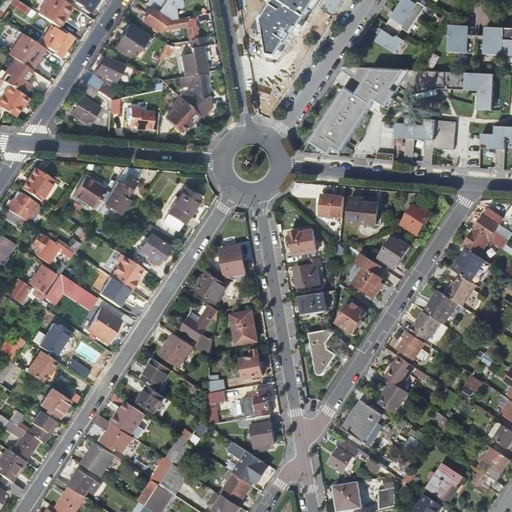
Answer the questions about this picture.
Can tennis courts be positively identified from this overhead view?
No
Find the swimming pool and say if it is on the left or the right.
left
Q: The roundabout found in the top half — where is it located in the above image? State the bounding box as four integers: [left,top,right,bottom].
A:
[232,144,270,182]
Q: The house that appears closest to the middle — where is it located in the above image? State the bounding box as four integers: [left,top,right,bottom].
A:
[218,244,246,278]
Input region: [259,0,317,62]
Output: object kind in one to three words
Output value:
building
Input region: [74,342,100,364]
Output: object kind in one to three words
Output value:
swimming pool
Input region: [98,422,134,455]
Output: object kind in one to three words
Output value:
house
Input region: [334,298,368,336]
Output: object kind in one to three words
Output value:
house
